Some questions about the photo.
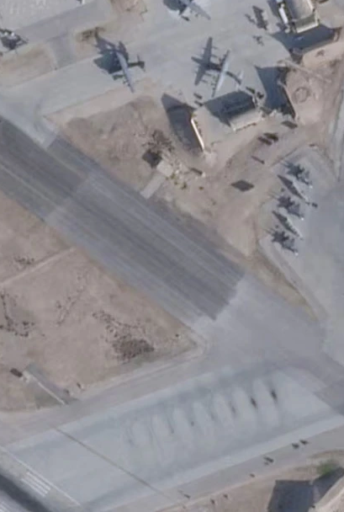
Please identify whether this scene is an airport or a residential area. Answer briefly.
airport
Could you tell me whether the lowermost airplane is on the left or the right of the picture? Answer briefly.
right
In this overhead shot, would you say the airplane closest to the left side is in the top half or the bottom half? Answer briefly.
top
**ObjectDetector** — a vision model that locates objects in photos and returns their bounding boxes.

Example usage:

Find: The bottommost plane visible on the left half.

[112,47,148,96]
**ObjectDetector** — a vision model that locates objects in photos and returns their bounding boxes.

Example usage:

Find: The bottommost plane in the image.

[276,234,297,254]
